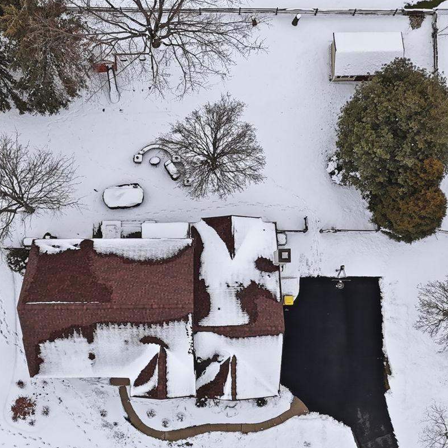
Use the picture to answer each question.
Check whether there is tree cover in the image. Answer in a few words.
Yes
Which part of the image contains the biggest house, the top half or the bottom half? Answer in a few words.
bottom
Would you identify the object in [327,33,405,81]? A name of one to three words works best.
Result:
shed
